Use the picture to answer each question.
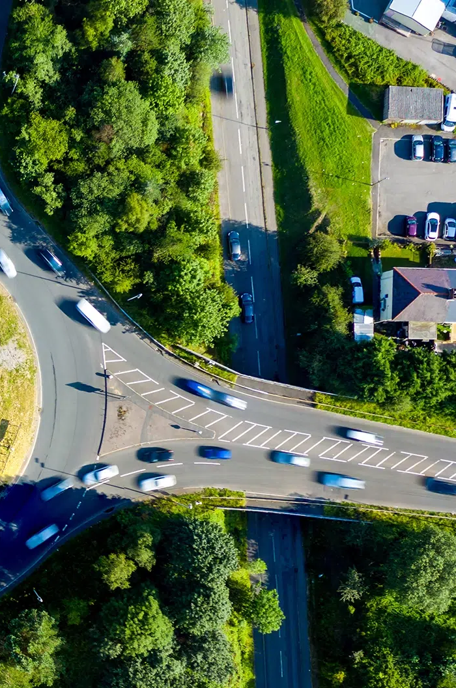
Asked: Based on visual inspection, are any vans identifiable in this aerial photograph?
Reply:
Yes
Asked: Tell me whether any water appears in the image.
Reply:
No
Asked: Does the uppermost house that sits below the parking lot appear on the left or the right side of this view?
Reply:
right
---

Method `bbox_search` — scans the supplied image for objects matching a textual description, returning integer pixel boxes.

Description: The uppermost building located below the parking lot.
[382,266,456,323]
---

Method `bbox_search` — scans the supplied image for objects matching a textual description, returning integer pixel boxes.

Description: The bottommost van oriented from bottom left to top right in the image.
[25,521,61,550]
